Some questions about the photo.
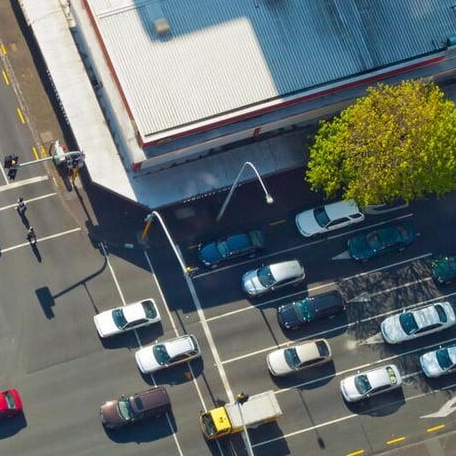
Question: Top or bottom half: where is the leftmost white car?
bottom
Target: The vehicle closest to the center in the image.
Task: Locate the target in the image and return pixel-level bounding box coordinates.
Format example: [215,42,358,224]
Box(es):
[197,225,268,268]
